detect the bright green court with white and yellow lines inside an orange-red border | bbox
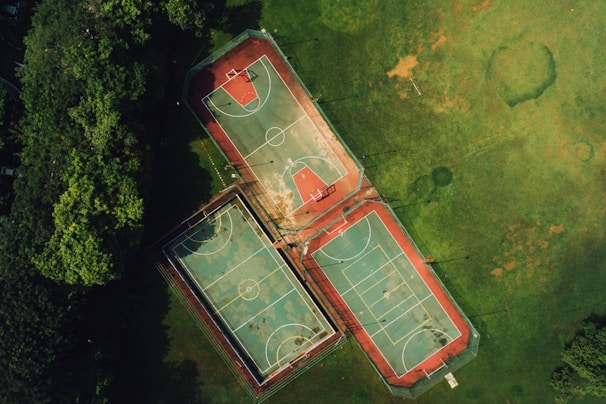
[302,200,470,386]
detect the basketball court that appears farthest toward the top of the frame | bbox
[189,37,361,232]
